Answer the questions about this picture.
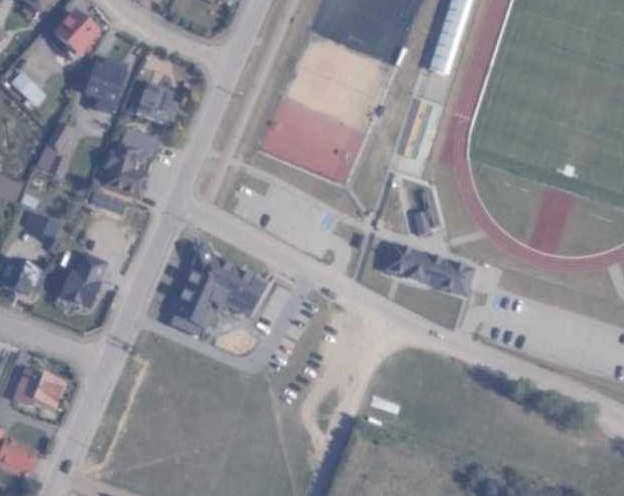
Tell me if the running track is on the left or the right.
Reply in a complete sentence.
The running track appears in the right half of the scene.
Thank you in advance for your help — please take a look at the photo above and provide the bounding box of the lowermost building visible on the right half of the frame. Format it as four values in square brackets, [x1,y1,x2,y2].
[375,243,477,300]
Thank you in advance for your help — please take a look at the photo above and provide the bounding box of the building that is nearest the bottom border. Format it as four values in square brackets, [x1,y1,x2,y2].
[1,441,40,474]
